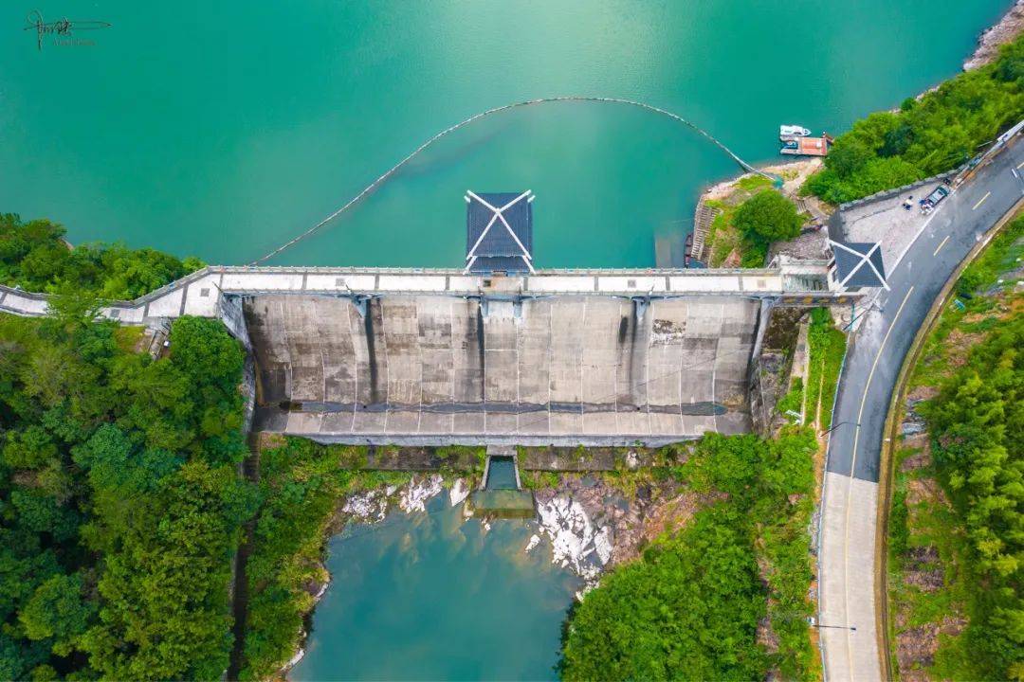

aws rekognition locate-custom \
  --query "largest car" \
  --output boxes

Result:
[928,184,954,205]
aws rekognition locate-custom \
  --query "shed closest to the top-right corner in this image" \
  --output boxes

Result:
[816,240,886,291]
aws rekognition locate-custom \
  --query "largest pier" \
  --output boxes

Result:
[781,131,827,154]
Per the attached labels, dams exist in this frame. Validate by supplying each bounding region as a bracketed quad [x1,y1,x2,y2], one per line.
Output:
[221,267,782,518]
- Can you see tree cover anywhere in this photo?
Yes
